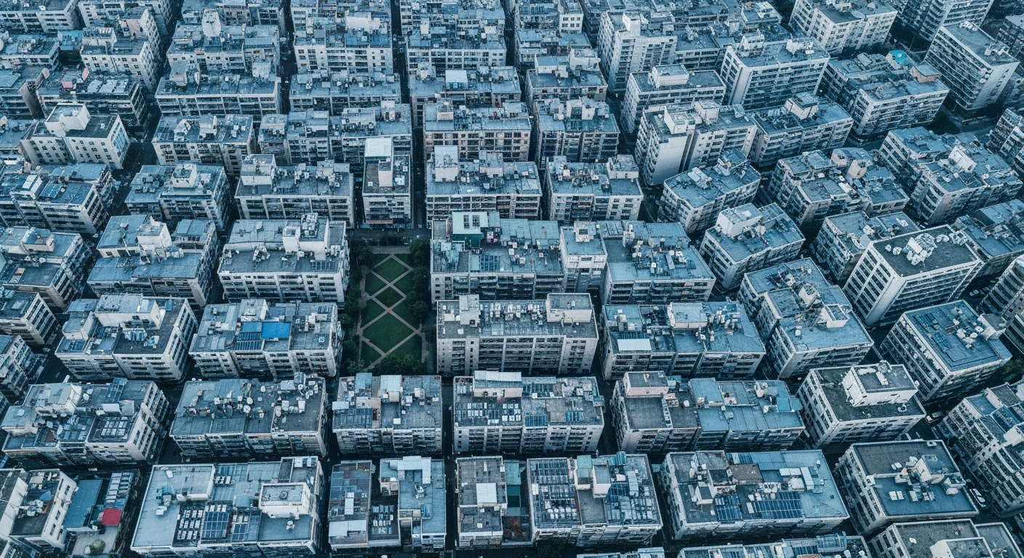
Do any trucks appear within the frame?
No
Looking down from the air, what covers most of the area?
buildings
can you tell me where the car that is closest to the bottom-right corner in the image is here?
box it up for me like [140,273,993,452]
[976,499,993,514]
